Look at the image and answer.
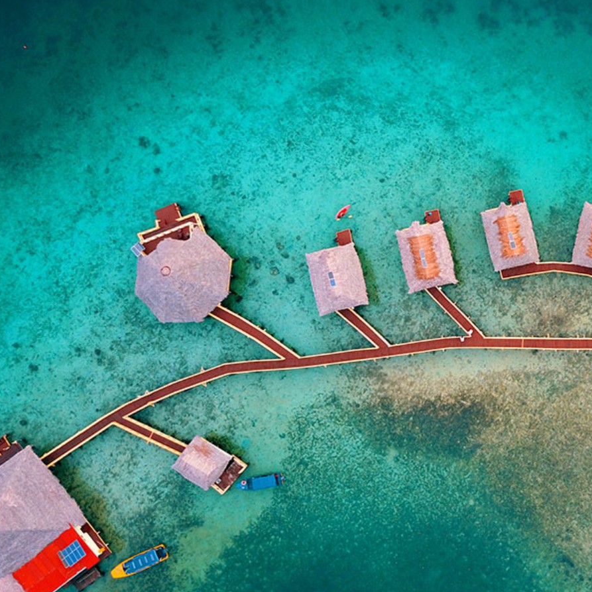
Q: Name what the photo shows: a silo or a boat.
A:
boat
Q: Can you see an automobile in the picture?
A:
No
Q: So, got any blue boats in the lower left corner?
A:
Yes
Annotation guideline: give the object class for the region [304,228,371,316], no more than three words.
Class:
shed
